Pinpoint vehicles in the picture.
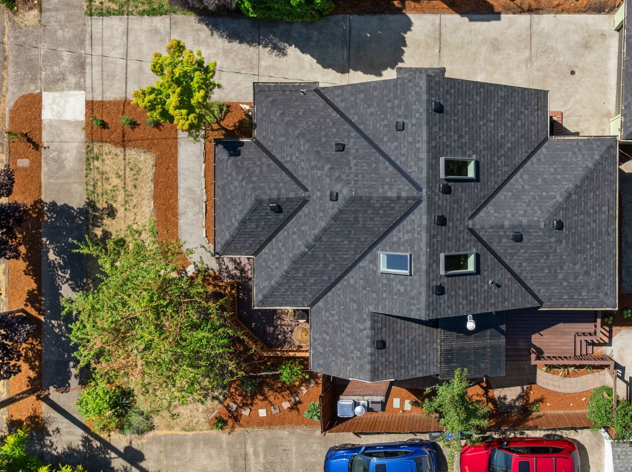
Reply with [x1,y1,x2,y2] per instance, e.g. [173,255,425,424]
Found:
[461,437,580,472]
[324,440,440,472]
